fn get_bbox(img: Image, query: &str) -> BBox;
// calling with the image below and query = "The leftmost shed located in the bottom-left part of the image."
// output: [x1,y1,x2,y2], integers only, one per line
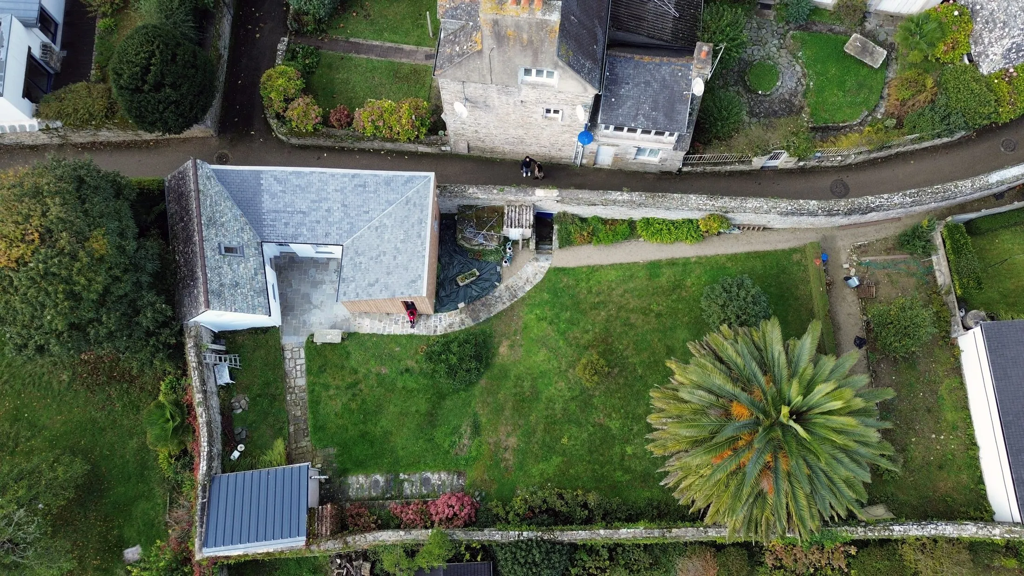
[202,462,320,557]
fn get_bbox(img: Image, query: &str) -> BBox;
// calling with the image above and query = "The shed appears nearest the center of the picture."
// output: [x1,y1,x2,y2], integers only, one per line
[504,204,534,250]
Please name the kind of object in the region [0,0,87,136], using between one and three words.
house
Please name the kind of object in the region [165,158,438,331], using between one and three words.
house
